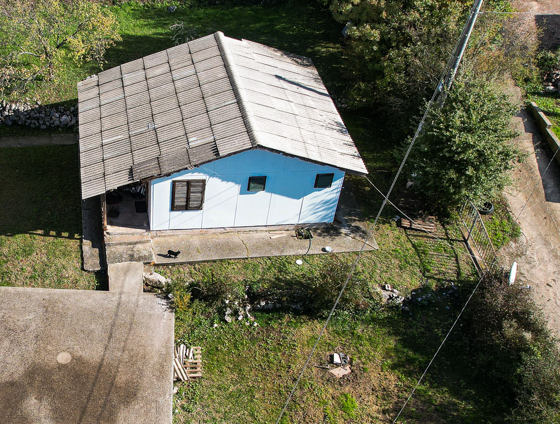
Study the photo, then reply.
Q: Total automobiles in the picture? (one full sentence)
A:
I count no automobiles.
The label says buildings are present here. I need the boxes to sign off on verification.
[78,32,367,238]
[0,288,174,424]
